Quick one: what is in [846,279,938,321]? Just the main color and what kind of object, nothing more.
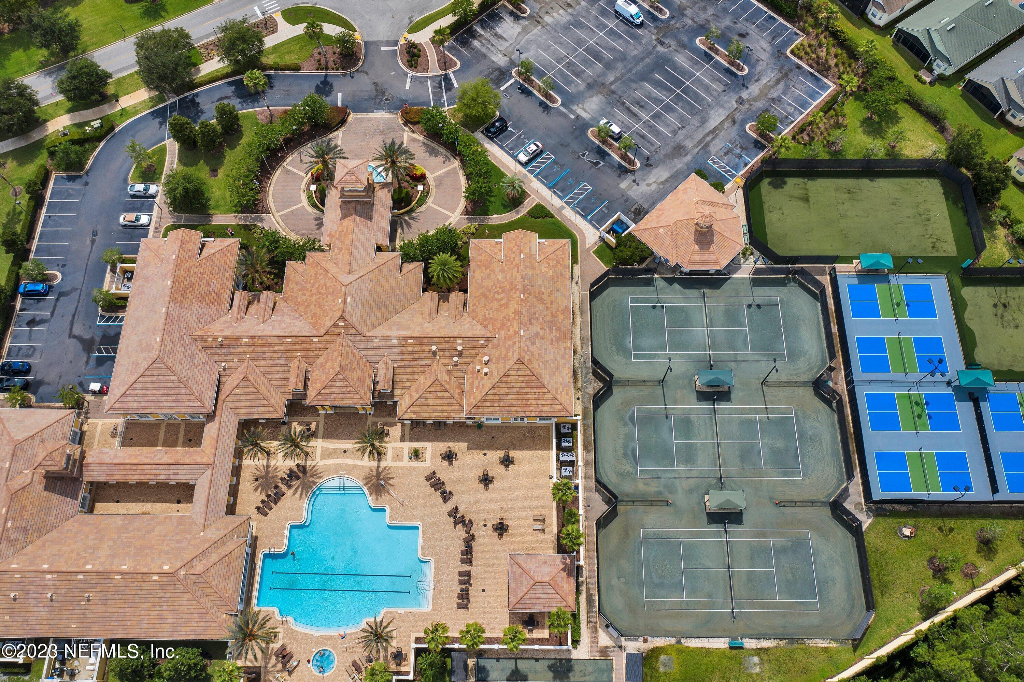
blue sports court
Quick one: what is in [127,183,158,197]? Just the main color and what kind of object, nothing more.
white car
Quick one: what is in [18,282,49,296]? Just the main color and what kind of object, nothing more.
blue car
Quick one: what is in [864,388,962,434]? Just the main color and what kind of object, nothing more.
blue sports court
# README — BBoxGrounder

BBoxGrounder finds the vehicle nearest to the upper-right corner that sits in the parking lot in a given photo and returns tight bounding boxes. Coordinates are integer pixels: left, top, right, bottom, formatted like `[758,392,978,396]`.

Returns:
[614,0,643,24]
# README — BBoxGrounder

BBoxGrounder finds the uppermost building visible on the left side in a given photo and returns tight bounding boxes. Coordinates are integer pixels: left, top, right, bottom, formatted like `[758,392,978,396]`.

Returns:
[104,159,575,426]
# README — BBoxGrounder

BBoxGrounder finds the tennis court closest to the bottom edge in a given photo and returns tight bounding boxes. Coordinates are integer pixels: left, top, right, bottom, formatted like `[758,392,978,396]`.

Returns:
[476,660,612,682]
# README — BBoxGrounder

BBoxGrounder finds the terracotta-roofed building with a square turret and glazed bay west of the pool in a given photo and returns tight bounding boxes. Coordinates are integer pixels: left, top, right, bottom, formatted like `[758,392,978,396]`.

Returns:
[0,409,257,641]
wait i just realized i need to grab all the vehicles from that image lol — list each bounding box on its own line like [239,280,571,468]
[85,381,109,394]
[127,183,158,197]
[517,141,544,164]
[0,378,28,392]
[119,214,150,227]
[18,282,49,296]
[0,361,31,375]
[598,118,624,139]
[614,0,643,24]
[483,115,510,137]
